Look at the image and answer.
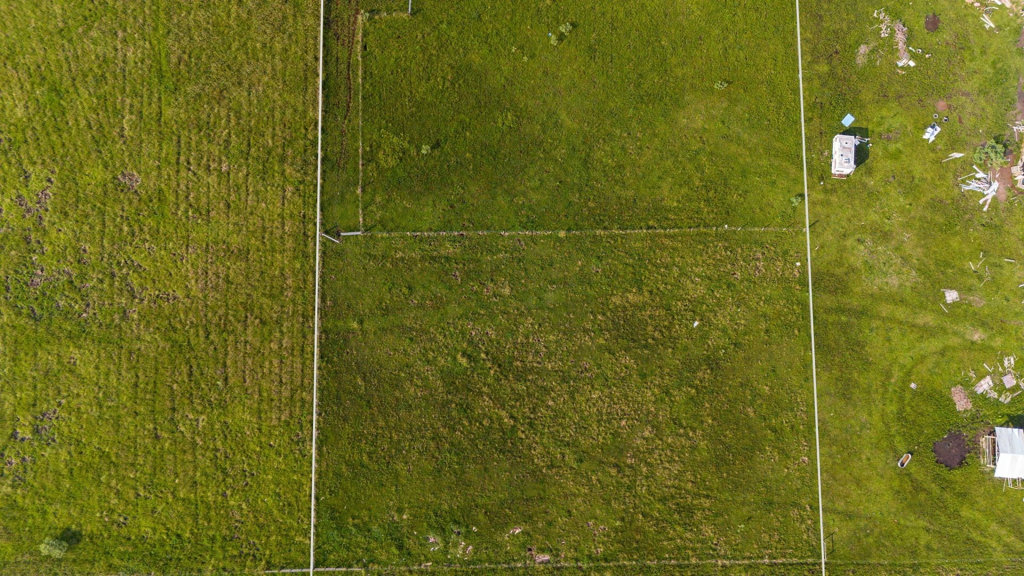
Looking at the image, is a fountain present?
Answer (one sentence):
No, the picture doesn't show any fountain.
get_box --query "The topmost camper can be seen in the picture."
[830,135,854,180]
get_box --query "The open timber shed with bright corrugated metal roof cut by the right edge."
[980,428,1024,478]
